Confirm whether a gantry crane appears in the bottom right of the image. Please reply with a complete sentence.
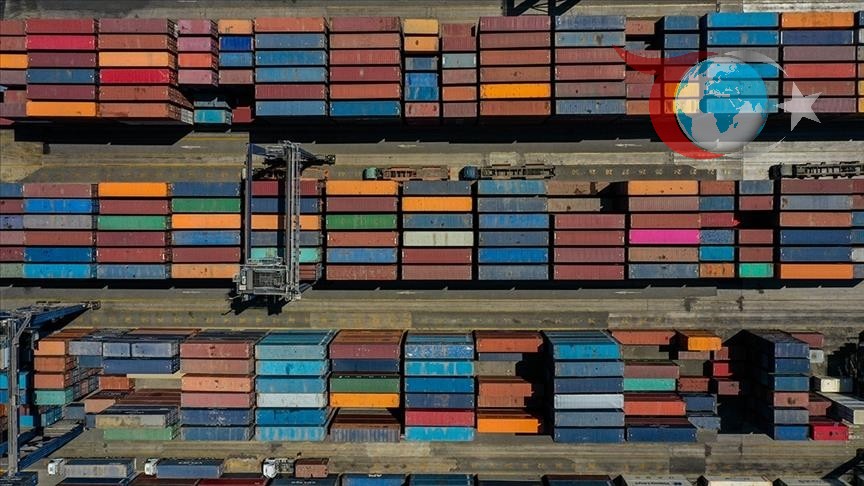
No, no gantry crane appears in the bottom right of the image.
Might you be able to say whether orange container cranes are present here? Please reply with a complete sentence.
No, I can't see a single orange container crane in this photo.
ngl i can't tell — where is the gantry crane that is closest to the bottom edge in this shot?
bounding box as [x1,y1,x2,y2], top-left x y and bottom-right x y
[0,300,111,483]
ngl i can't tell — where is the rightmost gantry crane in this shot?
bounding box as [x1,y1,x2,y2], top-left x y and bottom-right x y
[232,141,330,308]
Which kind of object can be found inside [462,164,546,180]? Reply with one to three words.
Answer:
vehicle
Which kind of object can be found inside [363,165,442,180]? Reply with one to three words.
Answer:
vehicle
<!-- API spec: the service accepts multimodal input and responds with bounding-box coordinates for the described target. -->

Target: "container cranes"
[0,300,111,483]
[232,141,330,308]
